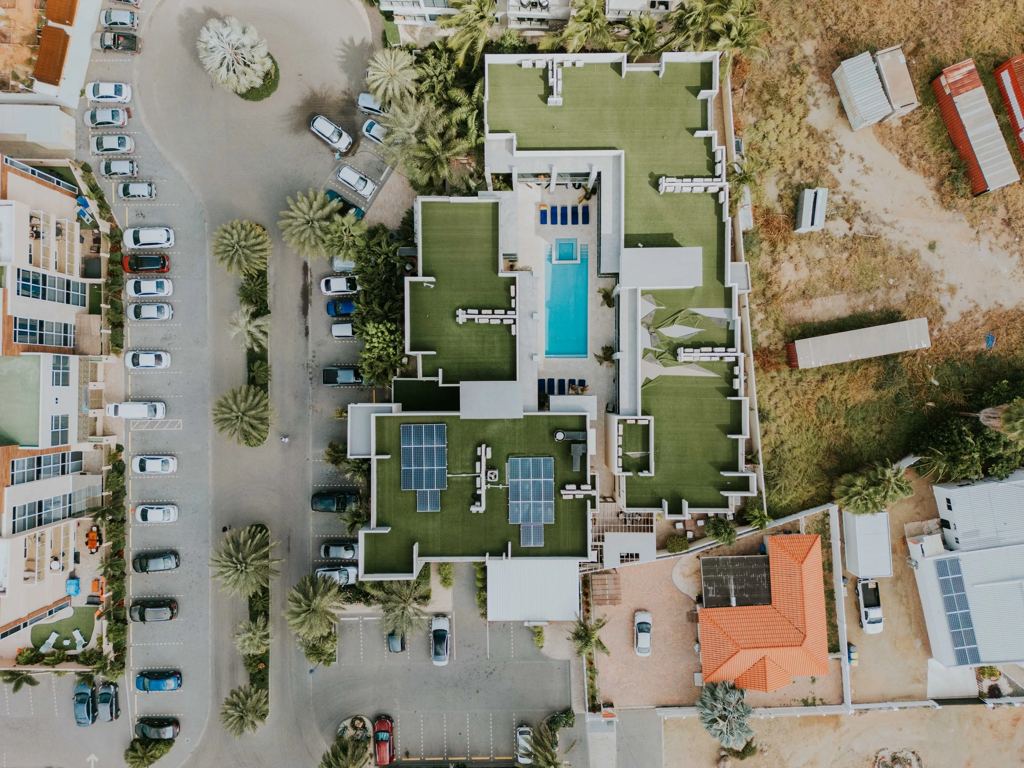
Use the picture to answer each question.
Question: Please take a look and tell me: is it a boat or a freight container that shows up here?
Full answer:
I can see a freight container in this picture.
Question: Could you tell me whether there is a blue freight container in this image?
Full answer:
No, I find no blue freight container anywhere in the image.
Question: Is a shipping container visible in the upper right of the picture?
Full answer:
Yes, I can see a shipping container in the upper right of the picture.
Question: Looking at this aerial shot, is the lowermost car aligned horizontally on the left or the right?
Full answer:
The lowermost car aligned horizontally is on the left side of the image.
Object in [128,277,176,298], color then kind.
white car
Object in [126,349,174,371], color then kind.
white car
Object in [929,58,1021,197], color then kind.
white shipping container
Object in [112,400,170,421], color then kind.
white vehicle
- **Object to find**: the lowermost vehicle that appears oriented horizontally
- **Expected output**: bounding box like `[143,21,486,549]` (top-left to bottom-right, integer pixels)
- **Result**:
[136,715,183,738]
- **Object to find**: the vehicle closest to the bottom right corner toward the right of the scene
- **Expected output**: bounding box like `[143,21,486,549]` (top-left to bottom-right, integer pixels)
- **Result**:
[856,578,886,633]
